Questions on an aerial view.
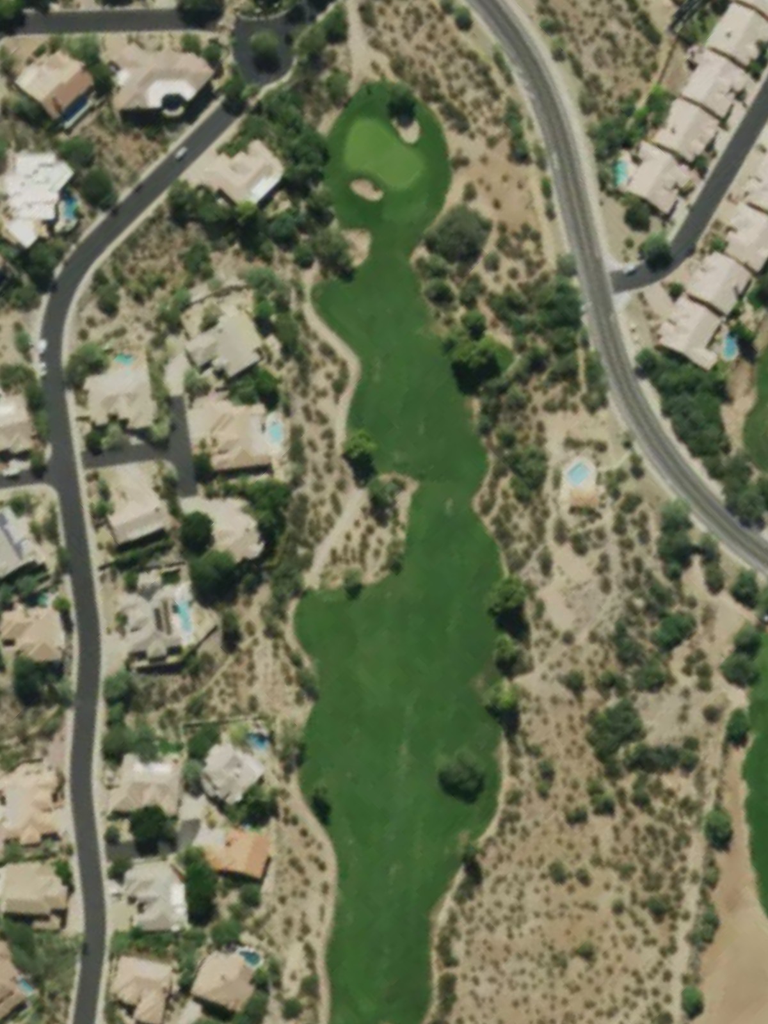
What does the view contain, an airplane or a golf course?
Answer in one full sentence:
Visible in the photo is a golf course.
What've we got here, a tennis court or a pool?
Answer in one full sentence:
The image shows a pool.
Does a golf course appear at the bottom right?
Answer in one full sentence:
Yes, a golf course shows up at the bottom right.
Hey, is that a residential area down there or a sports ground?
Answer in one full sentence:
It's a residential area.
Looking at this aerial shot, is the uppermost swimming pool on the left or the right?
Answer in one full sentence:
It is on the left.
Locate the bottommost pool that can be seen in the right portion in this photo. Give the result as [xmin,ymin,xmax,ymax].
[563,455,596,494]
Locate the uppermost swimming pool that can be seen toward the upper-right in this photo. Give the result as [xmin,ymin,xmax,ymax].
[611,154,634,190]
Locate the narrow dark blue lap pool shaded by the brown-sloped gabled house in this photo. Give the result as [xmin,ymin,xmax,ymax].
[63,95,97,127]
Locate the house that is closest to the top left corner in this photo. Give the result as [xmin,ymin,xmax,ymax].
[20,49,92,120]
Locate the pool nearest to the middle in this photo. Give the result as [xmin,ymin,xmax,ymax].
[267,410,286,450]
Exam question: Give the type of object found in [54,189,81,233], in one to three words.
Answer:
swimming pool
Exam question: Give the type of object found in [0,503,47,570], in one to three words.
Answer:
house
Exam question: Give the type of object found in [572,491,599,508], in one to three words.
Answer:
building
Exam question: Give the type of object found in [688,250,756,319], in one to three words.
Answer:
house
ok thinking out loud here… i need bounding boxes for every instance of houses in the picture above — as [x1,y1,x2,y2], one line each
[688,250,756,319]
[20,49,92,120]
[126,862,187,931]
[108,47,219,109]
[656,296,723,367]
[84,370,160,430]
[720,203,768,273]
[192,945,255,1013]
[3,603,65,661]
[113,956,173,1024]
[204,827,268,879]
[649,94,719,164]
[0,770,63,845]
[107,755,186,821]
[204,139,283,203]
[190,403,271,472]
[106,463,172,542]
[203,495,265,560]
[198,742,266,804]
[680,47,750,116]
[706,0,768,68]
[0,503,47,570]
[5,152,75,243]
[185,313,262,372]
[751,164,768,209]
[623,143,692,212]
[0,393,39,453]
[122,588,182,658]
[2,861,67,912]
[0,940,31,1018]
